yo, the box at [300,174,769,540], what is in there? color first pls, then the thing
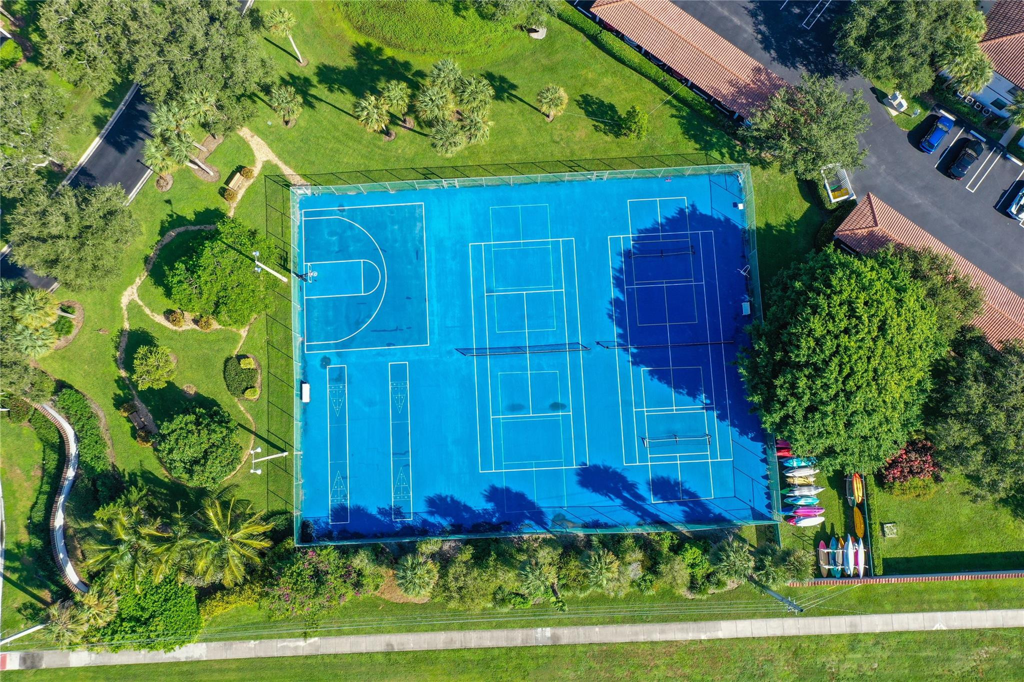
blue sports court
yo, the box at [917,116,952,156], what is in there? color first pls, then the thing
blue car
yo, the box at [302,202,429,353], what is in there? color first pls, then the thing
blue basketball court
